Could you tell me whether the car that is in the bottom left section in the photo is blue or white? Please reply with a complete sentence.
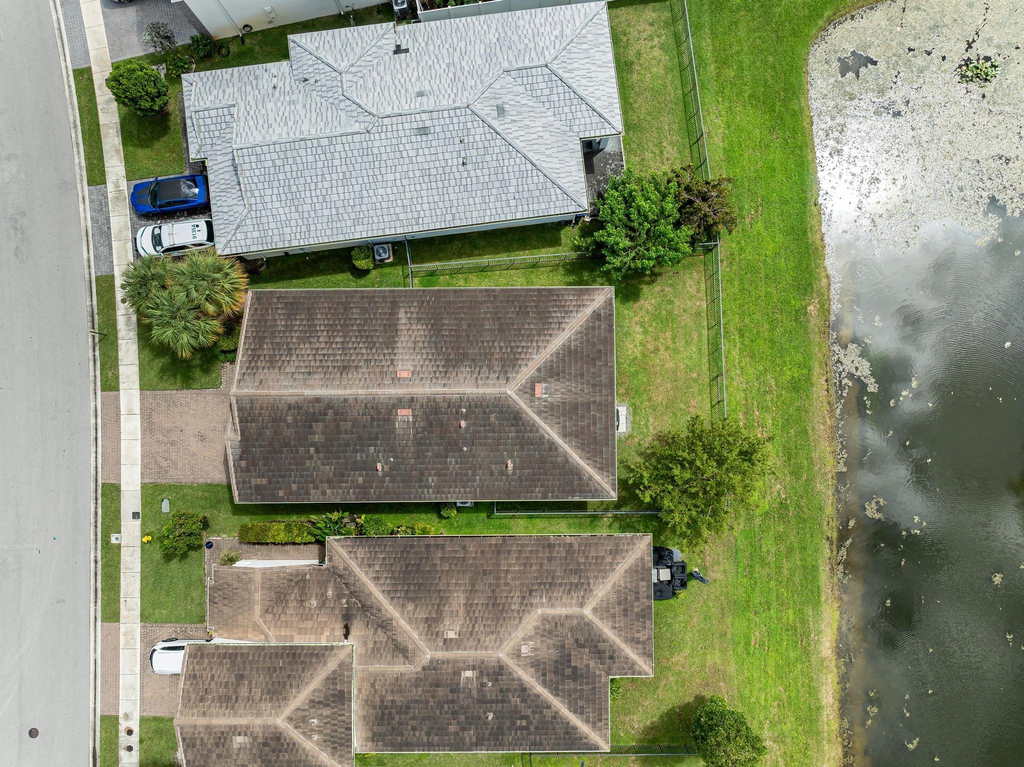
The car that is in the bottom left section is white.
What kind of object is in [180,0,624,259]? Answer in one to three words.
house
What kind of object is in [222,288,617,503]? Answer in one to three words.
house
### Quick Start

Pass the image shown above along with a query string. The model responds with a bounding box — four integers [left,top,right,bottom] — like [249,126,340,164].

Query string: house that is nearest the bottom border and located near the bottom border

[172,535,654,767]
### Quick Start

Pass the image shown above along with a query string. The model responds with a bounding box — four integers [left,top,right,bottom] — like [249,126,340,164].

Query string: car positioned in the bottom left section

[150,637,206,676]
